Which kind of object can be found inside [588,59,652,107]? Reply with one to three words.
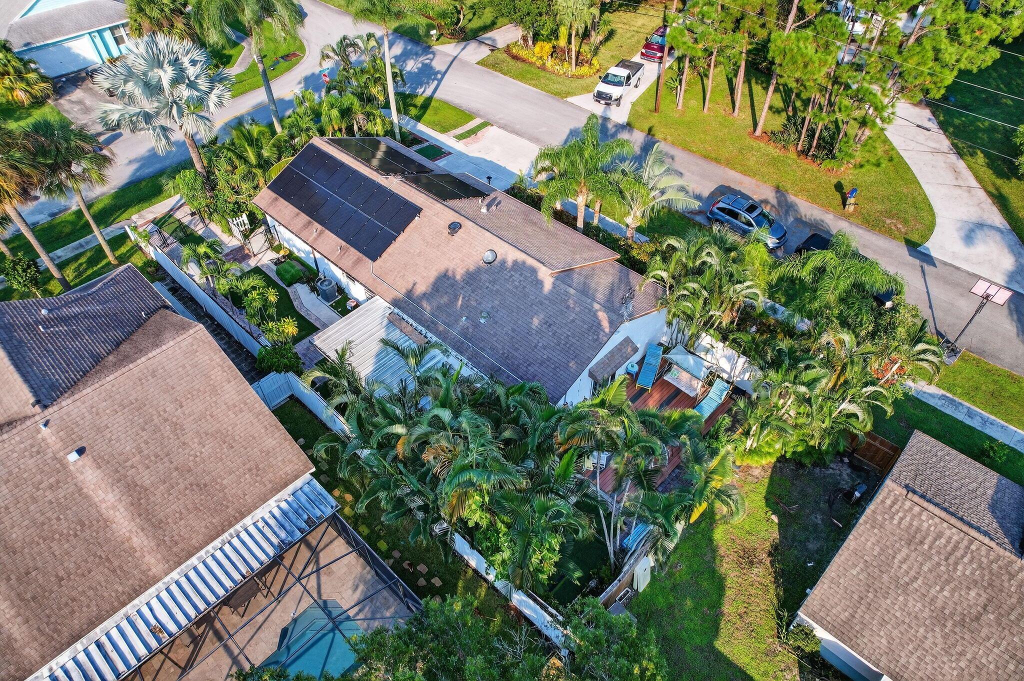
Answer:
truck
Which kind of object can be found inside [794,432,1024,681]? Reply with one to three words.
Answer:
house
